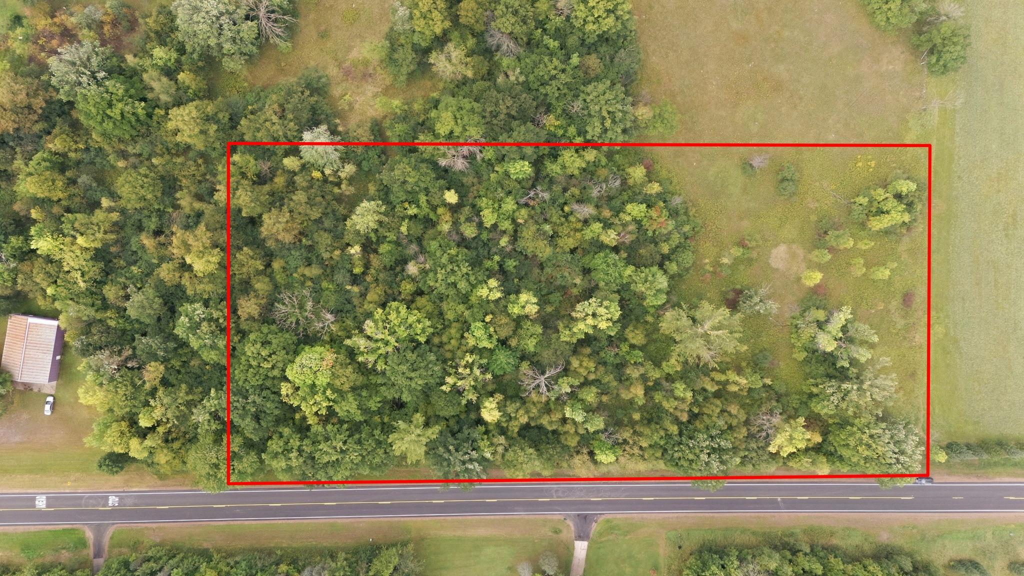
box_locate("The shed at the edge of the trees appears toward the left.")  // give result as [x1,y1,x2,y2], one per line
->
[0,314,65,383]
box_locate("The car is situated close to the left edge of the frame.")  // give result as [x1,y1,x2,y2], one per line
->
[44,395,57,416]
